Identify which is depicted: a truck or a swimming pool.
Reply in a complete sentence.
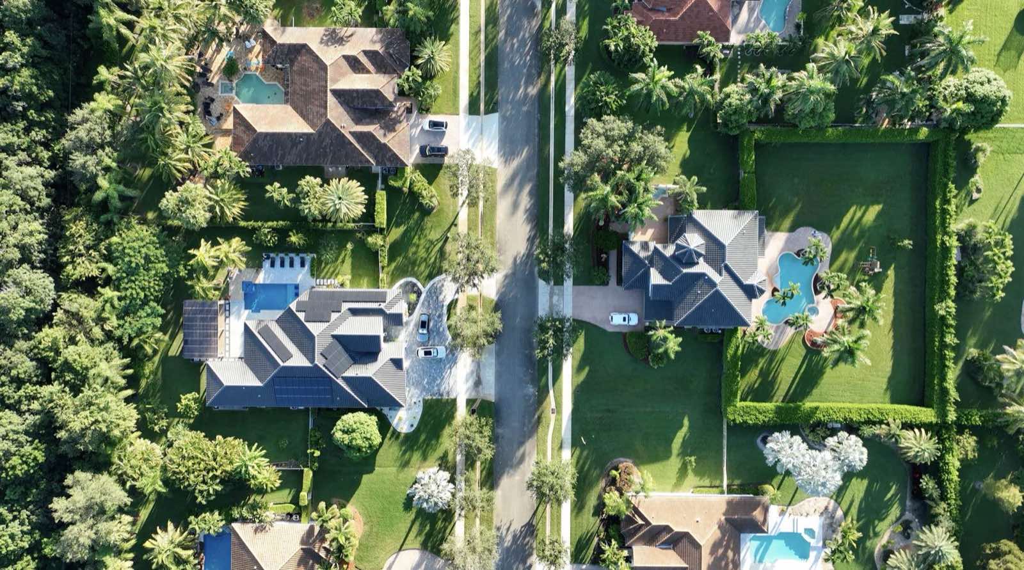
The one in the frame is a swimming pool.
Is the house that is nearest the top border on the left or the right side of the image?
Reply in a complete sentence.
You can find the house that is nearest the top border on the right side of the picture.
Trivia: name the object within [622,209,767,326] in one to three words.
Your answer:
house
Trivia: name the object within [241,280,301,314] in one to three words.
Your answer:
swimming pool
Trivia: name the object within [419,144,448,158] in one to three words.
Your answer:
car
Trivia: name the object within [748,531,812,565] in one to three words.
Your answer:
swimming pool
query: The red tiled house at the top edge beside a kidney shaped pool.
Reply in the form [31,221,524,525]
[631,0,732,48]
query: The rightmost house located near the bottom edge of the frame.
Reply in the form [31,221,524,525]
[620,494,770,570]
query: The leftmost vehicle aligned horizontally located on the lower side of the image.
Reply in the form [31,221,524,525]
[417,346,446,359]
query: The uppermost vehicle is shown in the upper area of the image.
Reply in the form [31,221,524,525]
[423,119,448,132]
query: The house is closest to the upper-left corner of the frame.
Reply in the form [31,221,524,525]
[232,27,410,166]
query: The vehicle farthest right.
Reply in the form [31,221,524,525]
[609,312,638,326]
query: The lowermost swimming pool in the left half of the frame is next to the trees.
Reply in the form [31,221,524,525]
[203,532,231,570]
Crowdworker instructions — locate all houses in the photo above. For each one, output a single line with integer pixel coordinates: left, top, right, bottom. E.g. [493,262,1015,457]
[230,520,340,570]
[232,27,410,166]
[206,287,407,408]
[631,0,732,48]
[620,494,770,570]
[622,209,767,326]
